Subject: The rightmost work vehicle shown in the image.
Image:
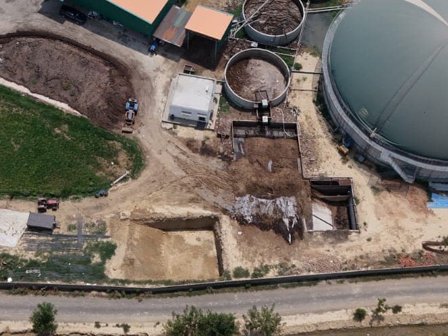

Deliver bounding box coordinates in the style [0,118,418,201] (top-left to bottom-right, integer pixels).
[145,35,161,54]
